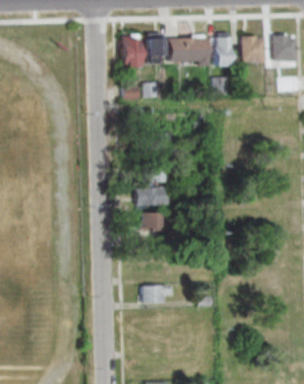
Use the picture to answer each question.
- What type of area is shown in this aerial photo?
sports ground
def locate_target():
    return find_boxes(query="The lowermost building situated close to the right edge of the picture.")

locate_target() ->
[276,76,300,94]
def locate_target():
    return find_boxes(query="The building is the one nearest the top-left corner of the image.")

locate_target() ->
[120,32,147,69]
